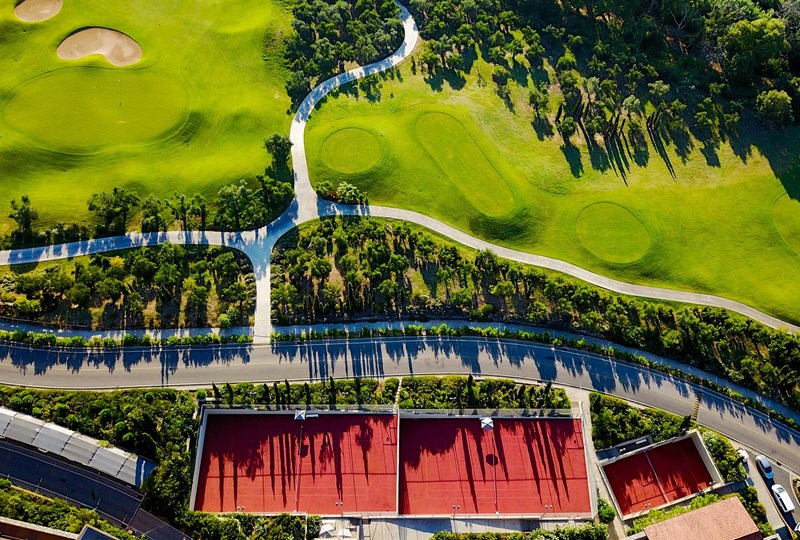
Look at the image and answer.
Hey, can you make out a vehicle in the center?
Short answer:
No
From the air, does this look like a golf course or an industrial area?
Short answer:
golf course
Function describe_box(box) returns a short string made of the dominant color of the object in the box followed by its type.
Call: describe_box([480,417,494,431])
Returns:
white umbrella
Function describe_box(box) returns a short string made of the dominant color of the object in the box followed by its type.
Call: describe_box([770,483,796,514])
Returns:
white vehicle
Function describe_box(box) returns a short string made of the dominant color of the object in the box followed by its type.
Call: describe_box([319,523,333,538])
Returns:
white umbrella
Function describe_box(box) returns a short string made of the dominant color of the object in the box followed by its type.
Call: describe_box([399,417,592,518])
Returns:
red tennis court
